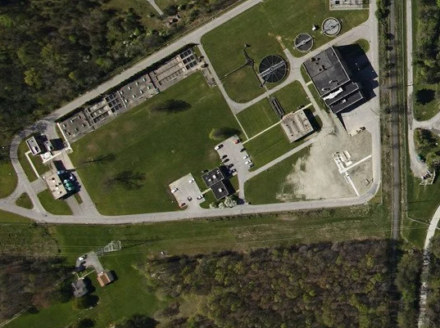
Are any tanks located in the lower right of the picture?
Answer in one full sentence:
No, no tank is visible in the lower right of the picture.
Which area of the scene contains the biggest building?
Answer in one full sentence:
You can find the biggest building in the top right area of the picture.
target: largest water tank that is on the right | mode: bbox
[258,55,288,83]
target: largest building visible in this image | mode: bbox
[302,46,366,113]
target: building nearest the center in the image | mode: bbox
[202,167,232,200]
